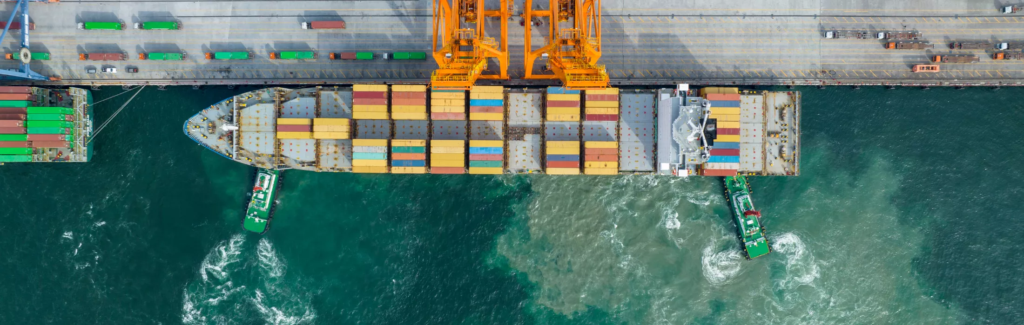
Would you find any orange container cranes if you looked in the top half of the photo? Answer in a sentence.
Yes, in the top half of the photo there is an orange container crane.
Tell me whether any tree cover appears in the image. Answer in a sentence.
No, there's no tree cover in this view.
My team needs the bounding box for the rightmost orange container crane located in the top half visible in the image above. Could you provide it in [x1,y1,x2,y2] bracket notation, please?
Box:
[517,0,609,93]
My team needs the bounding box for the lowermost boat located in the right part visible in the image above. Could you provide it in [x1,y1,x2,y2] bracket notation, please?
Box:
[724,175,770,260]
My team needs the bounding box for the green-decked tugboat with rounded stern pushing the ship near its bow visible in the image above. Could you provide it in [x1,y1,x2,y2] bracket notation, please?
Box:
[244,168,282,235]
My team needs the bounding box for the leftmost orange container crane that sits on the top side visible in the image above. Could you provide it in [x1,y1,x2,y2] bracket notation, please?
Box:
[428,0,516,93]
